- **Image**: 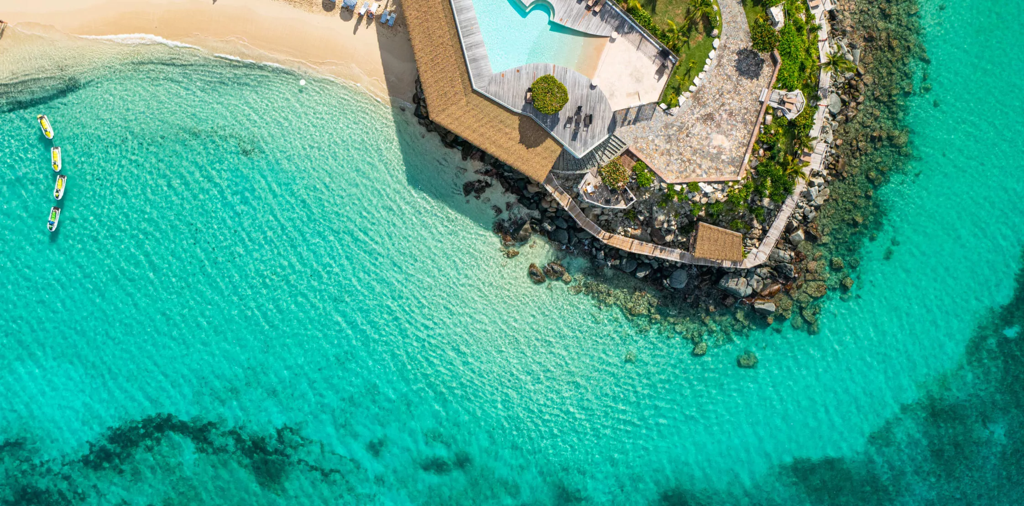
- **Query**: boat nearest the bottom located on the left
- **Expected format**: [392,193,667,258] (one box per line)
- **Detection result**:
[47,206,62,231]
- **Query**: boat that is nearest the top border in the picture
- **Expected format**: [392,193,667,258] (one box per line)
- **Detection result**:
[39,113,53,138]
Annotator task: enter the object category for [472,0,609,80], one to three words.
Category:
swimming pool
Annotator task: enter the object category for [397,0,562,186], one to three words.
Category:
building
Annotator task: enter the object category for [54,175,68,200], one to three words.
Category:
boat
